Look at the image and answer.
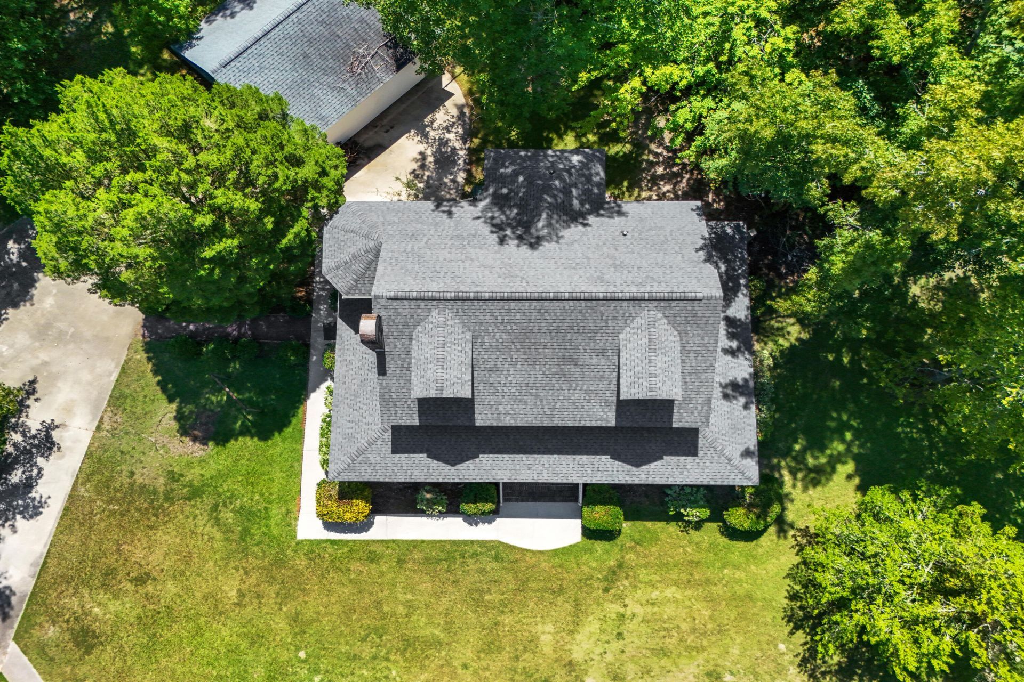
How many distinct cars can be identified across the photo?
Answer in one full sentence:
The photo contains no cars.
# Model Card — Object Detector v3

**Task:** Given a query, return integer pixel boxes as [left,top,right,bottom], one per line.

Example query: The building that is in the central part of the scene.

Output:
[320,147,761,488]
